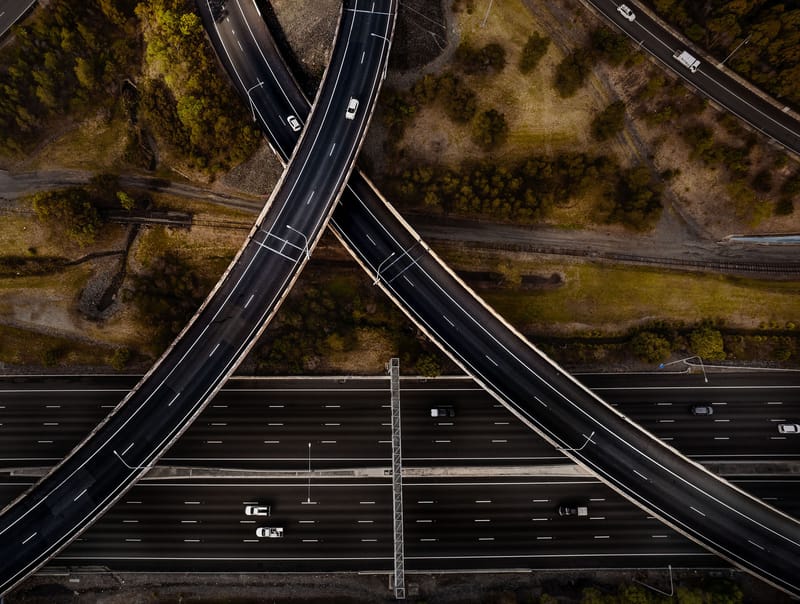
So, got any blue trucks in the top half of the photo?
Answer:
No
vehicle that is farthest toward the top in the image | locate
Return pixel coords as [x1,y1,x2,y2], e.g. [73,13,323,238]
[616,4,635,21]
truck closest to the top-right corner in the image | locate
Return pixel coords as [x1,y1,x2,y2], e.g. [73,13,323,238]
[672,45,702,71]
